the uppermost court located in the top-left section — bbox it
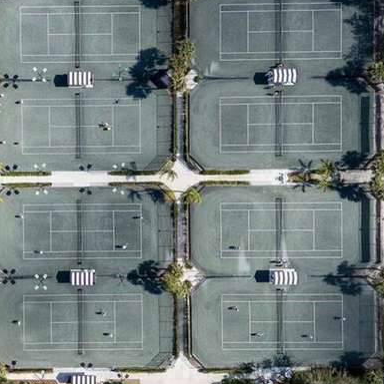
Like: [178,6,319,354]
[0,0,173,80]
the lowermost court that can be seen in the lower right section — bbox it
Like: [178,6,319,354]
[191,278,376,368]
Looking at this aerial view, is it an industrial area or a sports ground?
sports ground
